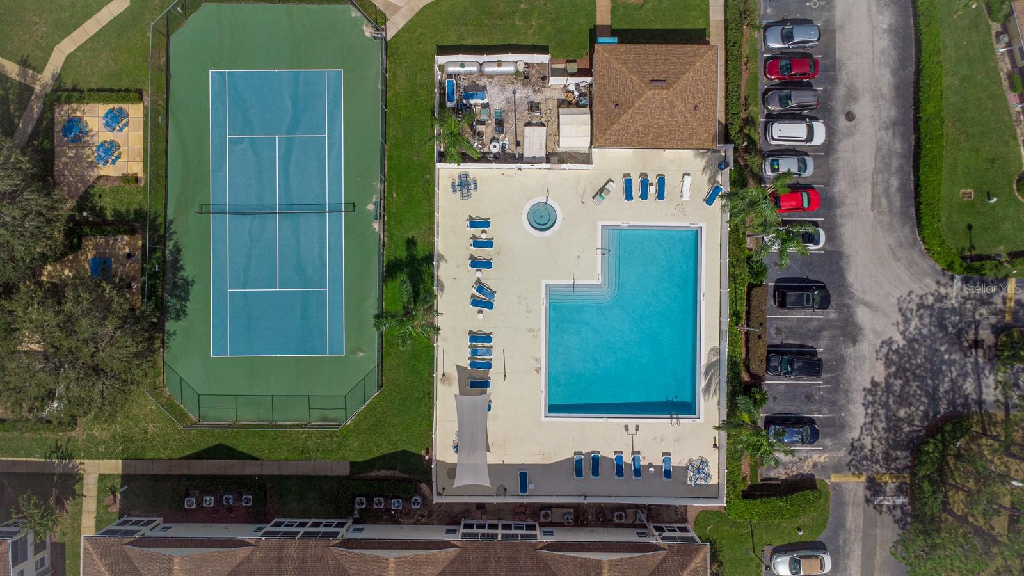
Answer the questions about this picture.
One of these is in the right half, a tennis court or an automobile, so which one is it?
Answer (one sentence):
There is an automobile in the right half.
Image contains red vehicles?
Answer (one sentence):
Yes, there is a red vehicle in the image.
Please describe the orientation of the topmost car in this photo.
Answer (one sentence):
In this picture, the topmost car is oriented horizontally.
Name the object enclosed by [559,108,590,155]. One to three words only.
shed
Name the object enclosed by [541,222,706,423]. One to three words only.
swimming pool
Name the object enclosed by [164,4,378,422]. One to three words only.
tennis court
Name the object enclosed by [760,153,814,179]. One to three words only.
car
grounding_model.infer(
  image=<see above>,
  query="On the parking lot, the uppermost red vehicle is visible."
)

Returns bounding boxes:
[762,55,820,84]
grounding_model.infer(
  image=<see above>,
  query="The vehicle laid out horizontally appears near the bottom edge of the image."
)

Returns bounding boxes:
[770,548,831,576]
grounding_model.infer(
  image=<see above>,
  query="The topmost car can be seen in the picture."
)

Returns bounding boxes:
[763,22,822,52]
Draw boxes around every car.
[770,548,831,576]
[791,225,825,251]
[772,283,830,310]
[763,22,822,52]
[762,55,820,84]
[760,153,814,179]
[765,352,827,380]
[761,85,824,114]
[770,421,820,448]
[767,188,821,214]
[766,118,825,147]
